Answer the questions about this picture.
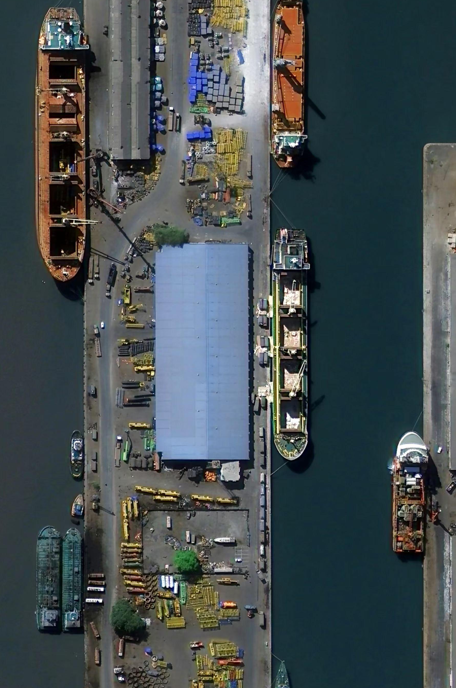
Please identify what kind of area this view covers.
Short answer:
port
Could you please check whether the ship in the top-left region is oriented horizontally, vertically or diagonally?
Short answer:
vertically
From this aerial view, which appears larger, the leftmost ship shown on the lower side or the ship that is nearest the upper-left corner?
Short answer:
the ship that is nearest the upper-left corner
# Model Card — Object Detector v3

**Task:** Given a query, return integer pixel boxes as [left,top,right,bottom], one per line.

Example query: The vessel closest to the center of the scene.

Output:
[270,229,310,461]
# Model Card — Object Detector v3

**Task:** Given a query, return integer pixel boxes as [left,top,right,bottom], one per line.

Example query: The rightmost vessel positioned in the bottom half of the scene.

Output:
[388,432,428,552]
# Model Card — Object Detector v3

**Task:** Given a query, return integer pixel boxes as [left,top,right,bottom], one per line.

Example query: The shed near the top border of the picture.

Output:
[108,0,150,159]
